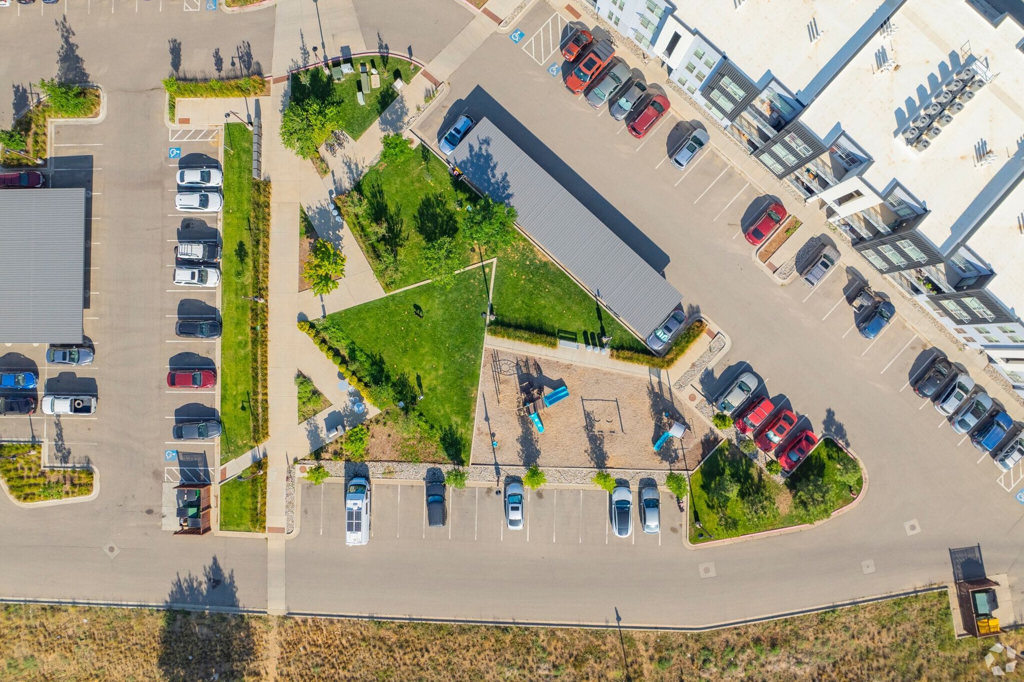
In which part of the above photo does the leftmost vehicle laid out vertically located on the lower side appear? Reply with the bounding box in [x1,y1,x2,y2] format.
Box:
[345,478,370,547]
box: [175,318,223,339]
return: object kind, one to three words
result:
car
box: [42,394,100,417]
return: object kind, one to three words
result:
truck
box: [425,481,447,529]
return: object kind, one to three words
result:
truck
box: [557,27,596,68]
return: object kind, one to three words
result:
car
